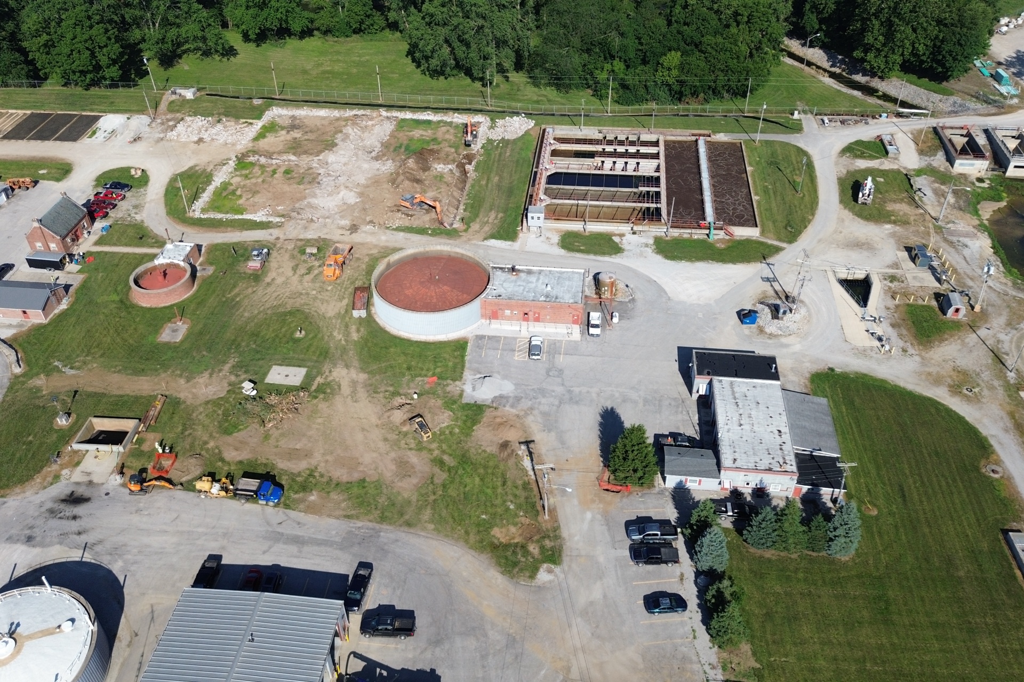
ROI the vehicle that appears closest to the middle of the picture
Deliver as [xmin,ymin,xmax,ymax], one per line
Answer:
[528,337,544,359]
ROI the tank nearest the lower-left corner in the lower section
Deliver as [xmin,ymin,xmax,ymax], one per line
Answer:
[0,581,119,682]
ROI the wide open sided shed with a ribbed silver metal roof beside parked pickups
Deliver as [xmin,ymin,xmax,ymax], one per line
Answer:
[139,588,347,682]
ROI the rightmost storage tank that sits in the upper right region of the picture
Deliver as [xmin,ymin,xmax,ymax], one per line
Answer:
[988,124,1024,172]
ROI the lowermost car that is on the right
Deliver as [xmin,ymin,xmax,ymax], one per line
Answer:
[642,595,690,618]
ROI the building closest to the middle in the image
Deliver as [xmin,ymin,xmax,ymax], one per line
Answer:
[483,262,592,321]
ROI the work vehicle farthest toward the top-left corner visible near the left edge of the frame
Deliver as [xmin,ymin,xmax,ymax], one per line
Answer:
[1,174,34,190]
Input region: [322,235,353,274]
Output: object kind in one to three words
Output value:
truck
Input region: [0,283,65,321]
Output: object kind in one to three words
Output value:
building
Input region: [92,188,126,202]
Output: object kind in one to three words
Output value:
vehicle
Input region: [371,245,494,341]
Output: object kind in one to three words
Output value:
storage tank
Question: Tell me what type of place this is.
industrial area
